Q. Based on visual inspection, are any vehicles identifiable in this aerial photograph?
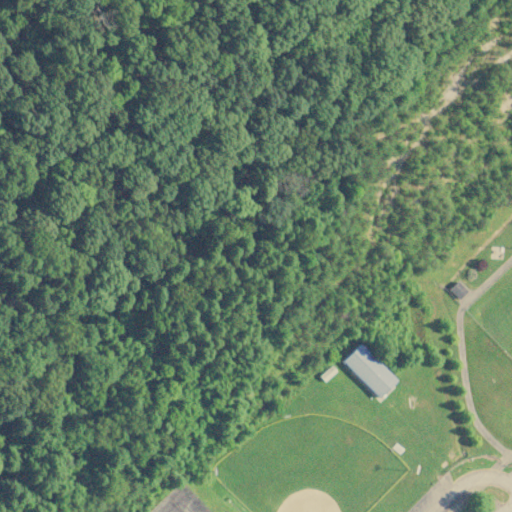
No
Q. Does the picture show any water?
No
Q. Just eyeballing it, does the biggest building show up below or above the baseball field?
above it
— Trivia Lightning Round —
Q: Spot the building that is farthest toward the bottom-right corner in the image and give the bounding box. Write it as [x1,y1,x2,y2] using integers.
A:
[344,344,398,400]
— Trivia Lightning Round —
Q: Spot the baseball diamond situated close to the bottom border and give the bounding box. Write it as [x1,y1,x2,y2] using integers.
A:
[216,414,410,512]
